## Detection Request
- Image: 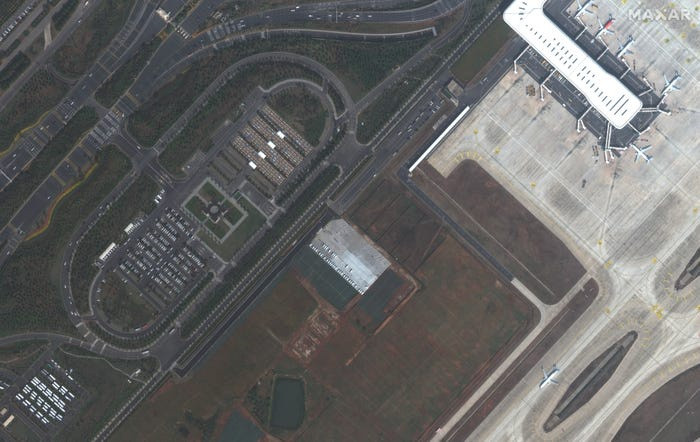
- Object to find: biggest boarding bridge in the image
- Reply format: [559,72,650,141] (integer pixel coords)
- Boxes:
[606,123,627,162]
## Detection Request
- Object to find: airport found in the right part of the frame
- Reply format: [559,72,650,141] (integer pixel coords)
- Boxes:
[428,0,700,442]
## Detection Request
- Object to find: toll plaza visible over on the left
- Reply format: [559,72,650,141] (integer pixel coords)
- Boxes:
[156,8,192,43]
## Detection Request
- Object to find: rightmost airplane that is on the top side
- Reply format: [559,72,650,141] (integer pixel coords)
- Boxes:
[662,74,684,94]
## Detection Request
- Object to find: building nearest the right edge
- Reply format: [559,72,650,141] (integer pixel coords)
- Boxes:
[502,0,643,129]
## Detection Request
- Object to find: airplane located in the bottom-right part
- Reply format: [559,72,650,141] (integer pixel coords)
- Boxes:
[541,367,561,387]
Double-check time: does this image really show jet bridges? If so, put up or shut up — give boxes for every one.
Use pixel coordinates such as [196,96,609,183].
[578,107,592,132]
[622,59,632,76]
[597,36,610,59]
[606,123,627,162]
[541,70,556,100]
[576,17,588,40]
[628,122,650,135]
[639,79,654,96]
[642,94,670,114]
[514,44,530,74]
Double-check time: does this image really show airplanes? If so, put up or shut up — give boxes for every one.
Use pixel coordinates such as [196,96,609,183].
[595,16,617,38]
[576,0,596,16]
[630,143,652,164]
[662,74,684,94]
[619,36,637,57]
[541,367,561,387]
